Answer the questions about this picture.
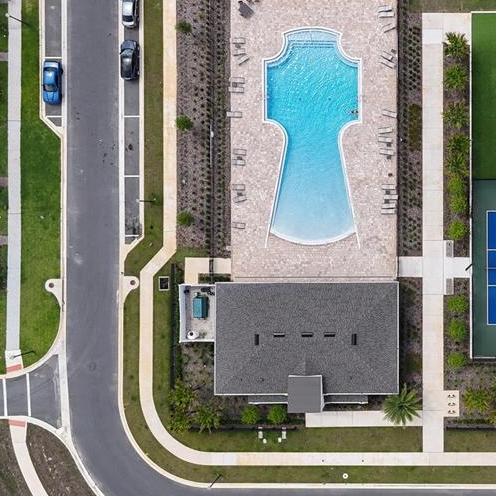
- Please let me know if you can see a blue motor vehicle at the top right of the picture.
No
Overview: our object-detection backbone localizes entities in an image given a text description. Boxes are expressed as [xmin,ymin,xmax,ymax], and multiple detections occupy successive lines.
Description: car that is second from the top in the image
[119,41,140,81]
